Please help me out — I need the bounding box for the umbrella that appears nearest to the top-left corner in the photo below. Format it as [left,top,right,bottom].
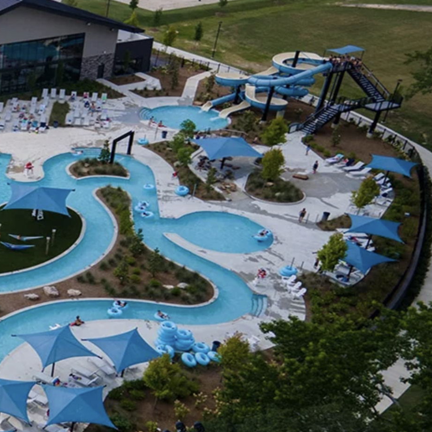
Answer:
[1,183,75,223]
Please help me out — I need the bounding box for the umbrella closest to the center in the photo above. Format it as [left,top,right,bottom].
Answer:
[188,136,265,171]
